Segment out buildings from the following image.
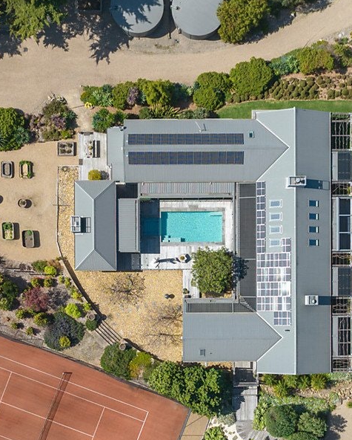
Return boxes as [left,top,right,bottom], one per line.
[71,180,140,272]
[108,104,332,387]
